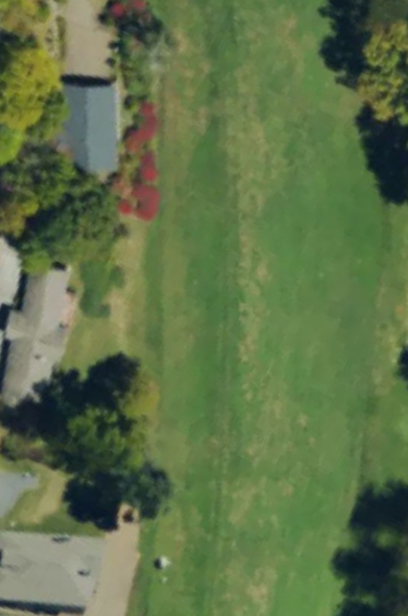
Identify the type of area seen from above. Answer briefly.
golf course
